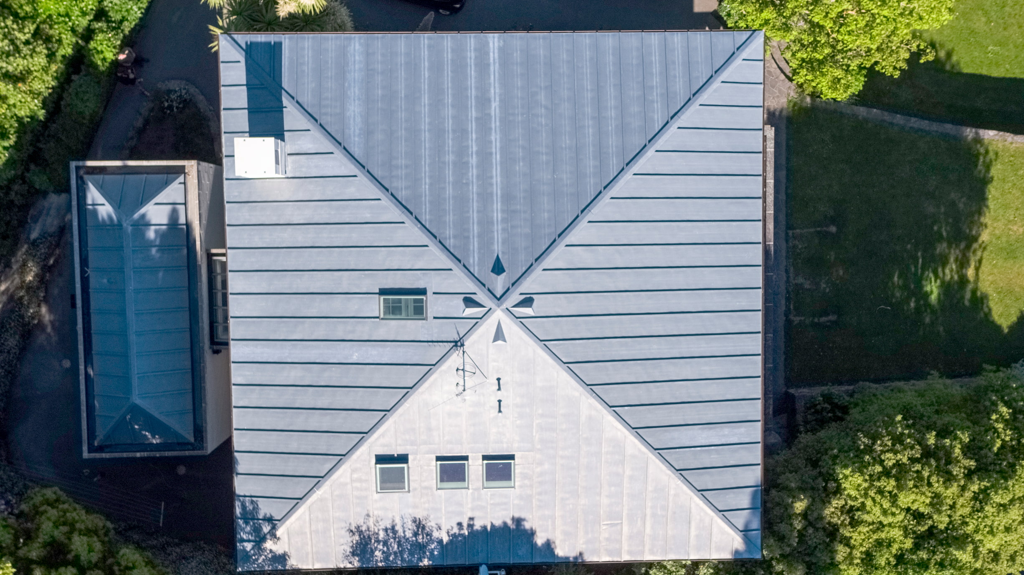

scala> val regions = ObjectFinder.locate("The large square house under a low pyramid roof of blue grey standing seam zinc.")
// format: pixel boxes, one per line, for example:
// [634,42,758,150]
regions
[216,28,767,574]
